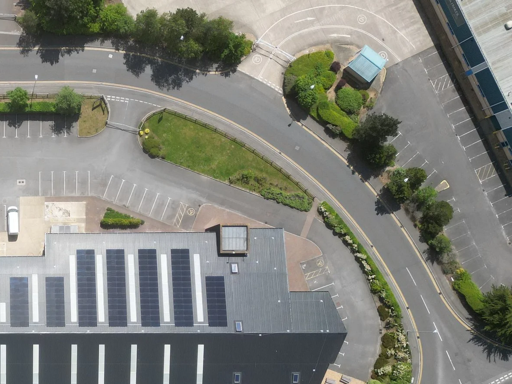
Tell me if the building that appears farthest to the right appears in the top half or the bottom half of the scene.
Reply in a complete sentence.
Seen from above, the building that appears farthest to the right lies in the top half of the view.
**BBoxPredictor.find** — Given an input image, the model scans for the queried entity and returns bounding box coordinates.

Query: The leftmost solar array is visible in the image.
[10,277,29,328]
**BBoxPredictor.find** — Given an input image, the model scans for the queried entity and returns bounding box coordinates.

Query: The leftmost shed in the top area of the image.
[342,45,389,84]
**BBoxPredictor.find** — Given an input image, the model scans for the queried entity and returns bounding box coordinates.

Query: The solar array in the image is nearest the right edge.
[206,275,227,328]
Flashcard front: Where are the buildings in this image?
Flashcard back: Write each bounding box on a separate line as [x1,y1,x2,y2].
[427,0,512,172]
[342,45,389,84]
[0,224,347,384]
